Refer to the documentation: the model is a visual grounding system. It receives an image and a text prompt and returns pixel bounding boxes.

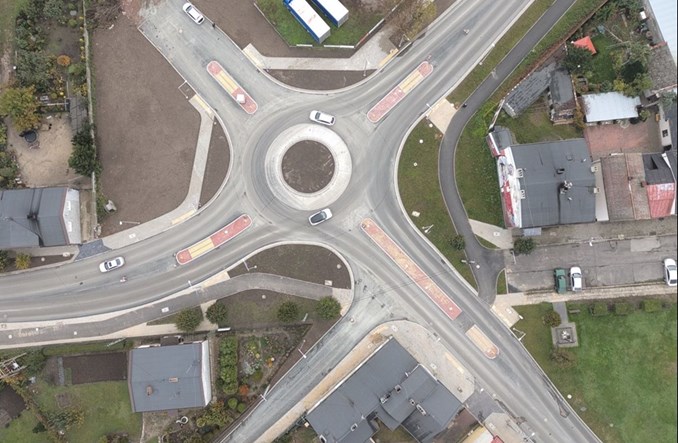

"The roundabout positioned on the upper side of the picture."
[265,123,351,210]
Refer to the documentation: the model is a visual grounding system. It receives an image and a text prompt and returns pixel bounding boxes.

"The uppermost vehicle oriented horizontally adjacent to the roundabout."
[309,109,336,125]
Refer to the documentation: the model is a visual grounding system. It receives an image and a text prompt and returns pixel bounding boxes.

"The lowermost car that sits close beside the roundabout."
[308,209,332,225]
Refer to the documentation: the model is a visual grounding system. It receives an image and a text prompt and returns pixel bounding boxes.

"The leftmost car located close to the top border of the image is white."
[179,0,205,24]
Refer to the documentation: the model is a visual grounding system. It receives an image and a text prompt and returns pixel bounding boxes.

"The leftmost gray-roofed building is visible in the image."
[0,190,42,249]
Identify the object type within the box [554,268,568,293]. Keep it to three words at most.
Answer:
vehicle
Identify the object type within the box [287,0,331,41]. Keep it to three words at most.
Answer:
trailer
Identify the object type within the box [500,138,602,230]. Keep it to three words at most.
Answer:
house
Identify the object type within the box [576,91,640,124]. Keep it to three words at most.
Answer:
shed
